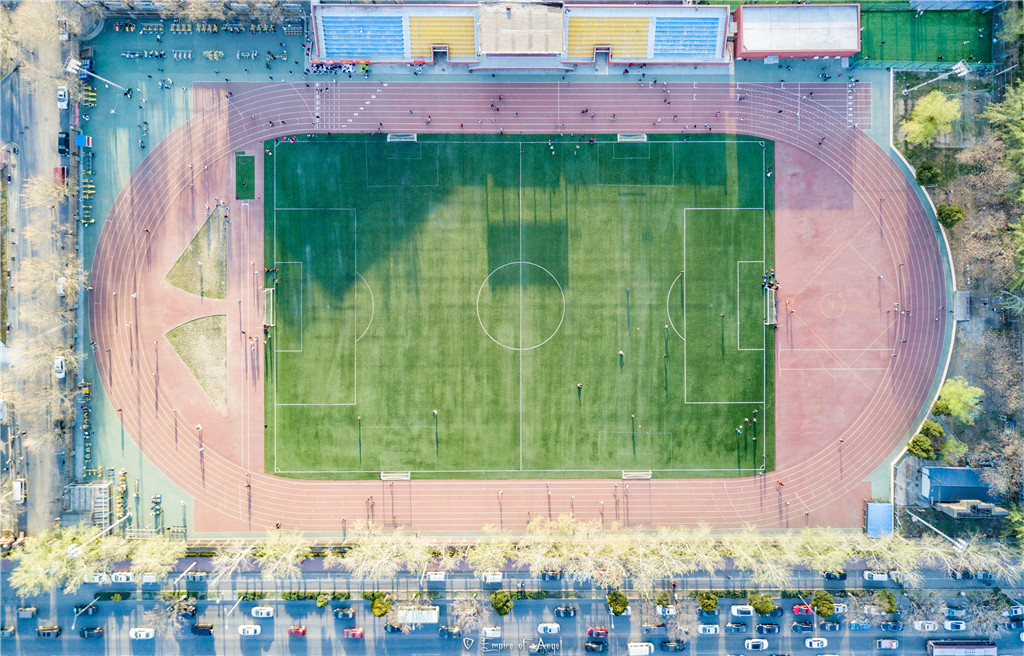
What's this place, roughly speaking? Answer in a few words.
sports ground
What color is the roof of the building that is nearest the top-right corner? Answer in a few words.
white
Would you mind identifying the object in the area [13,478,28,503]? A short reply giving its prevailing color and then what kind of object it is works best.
white vehicle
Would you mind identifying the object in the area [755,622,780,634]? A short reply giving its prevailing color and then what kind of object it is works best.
blue vehicle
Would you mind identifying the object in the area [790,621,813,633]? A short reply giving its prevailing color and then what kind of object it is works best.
blue vehicle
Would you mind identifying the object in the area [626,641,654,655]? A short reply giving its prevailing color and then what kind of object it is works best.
white vehicle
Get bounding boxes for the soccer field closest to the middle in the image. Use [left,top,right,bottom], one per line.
[264,133,774,480]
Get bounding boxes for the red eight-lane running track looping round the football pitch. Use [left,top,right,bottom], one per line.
[88,82,947,531]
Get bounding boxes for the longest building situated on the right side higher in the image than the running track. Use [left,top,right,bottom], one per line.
[734,4,859,67]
